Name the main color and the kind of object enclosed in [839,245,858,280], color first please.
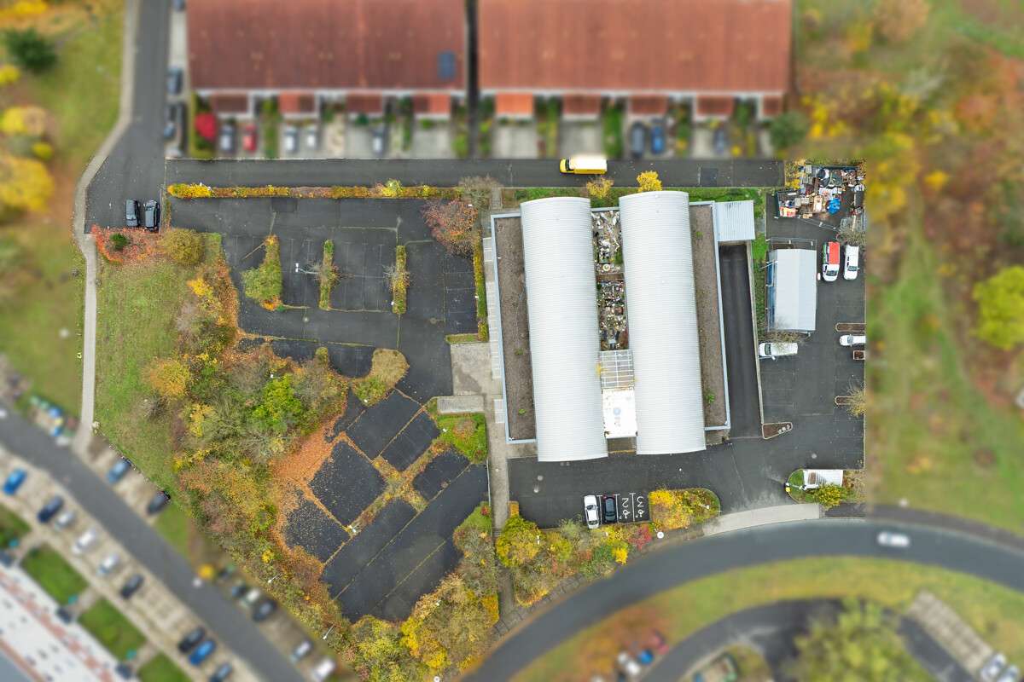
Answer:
white vehicle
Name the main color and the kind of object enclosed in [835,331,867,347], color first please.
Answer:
white vehicle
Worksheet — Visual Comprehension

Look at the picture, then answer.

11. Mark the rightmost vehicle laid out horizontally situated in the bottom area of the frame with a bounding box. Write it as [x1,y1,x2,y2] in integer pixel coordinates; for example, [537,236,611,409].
[876,531,910,547]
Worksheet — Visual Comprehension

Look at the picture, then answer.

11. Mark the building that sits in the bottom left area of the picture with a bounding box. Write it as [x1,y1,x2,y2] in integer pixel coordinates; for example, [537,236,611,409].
[0,556,138,682]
